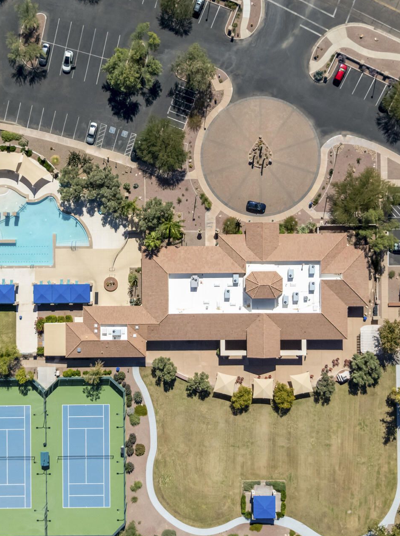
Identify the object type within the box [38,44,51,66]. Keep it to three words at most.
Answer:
vehicle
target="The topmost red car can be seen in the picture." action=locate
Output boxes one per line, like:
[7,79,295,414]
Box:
[333,63,347,85]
